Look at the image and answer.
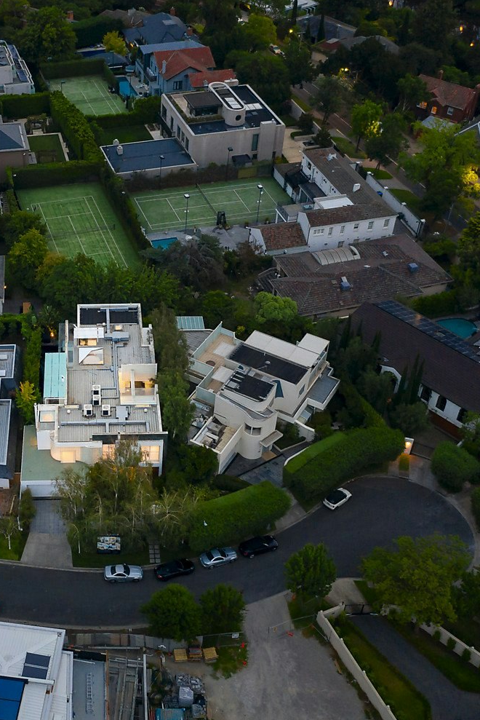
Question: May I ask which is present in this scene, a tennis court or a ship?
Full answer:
There is a tennis court in the scene.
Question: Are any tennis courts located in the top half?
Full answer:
Yes, a tennis court appears in the top half.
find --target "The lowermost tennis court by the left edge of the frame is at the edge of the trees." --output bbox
[22,189,140,278]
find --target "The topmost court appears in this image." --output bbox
[52,80,123,117]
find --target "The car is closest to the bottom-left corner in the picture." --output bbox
[104,563,142,582]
